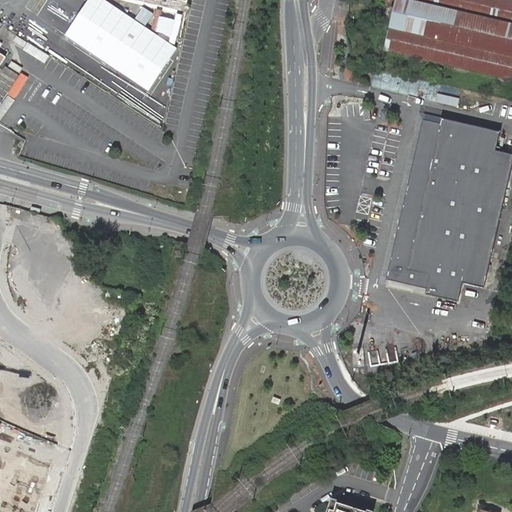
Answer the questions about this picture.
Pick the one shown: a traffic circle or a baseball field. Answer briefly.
traffic circle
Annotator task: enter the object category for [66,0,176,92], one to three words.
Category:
building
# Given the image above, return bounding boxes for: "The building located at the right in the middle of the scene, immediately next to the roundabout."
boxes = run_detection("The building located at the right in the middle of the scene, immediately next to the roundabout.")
[385,119,512,301]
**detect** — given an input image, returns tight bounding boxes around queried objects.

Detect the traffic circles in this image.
[242,228,349,334]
